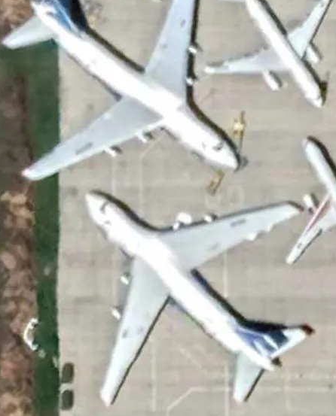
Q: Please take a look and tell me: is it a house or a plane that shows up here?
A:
plane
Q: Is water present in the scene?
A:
No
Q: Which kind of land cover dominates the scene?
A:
paved ground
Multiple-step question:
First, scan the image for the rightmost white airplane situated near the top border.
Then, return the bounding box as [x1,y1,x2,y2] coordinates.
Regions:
[195,0,335,107]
